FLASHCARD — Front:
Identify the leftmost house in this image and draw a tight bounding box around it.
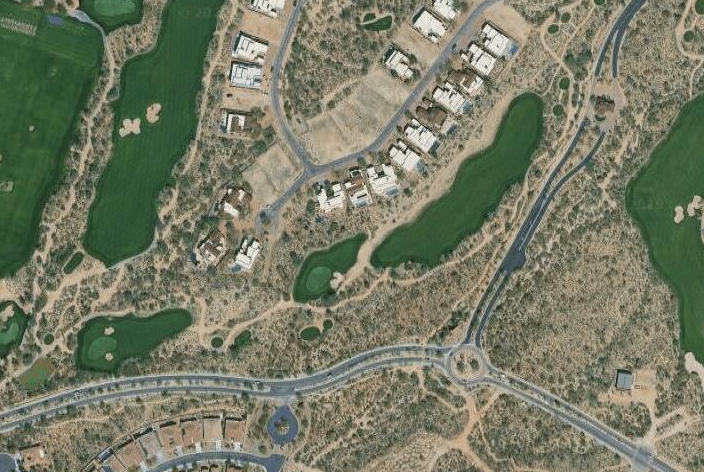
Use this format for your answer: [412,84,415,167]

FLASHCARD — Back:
[22,445,46,469]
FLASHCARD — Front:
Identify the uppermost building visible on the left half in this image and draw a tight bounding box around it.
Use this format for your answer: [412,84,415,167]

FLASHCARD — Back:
[253,0,284,18]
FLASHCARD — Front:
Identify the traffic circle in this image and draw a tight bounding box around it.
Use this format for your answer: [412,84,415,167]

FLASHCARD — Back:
[442,342,489,386]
